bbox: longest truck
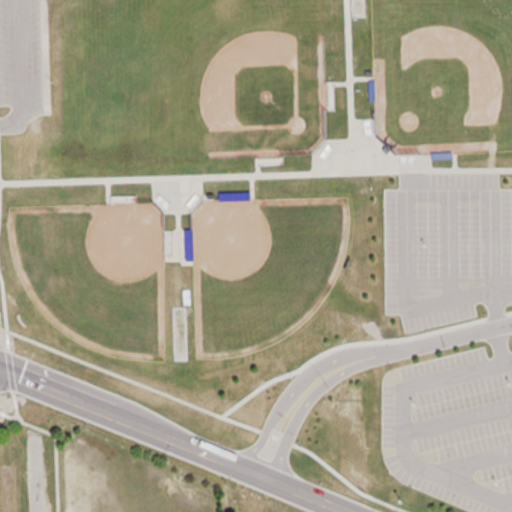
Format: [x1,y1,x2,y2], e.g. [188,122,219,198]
[190,439,236,462]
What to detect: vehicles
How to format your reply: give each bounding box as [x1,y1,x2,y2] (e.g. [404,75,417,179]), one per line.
[26,380,38,389]
[190,439,236,462]
[314,488,324,496]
